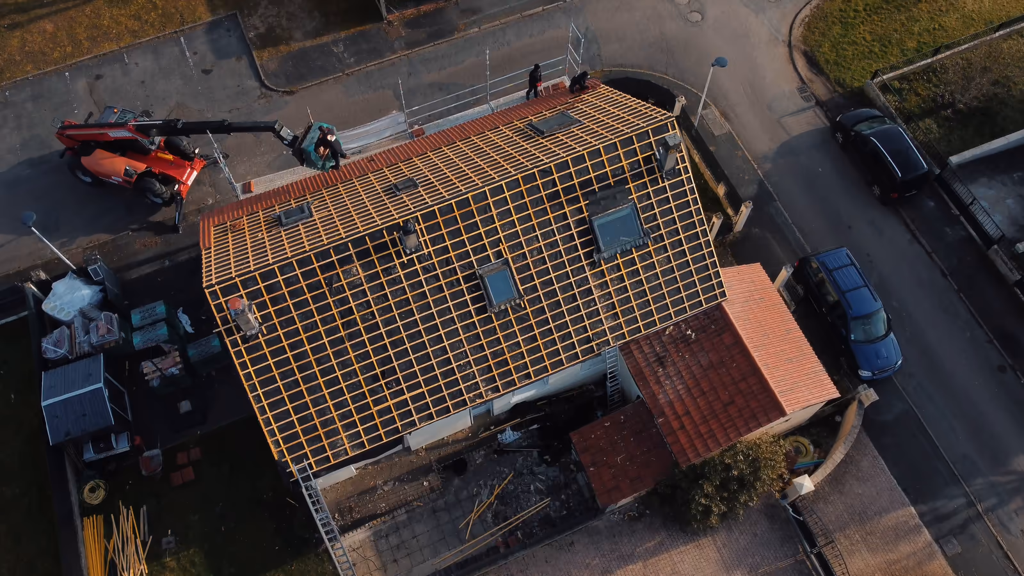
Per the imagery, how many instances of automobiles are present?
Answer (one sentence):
In total, 2 automobiles can be seen.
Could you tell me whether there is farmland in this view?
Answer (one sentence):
No, the scene doesn't show any farmland.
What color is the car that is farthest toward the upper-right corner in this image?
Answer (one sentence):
The car that is farthest toward the upper-right corner looks black in the image.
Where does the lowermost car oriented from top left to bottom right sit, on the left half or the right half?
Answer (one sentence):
The lowermost car oriented from top left to bottom right appears in the right half of the scene.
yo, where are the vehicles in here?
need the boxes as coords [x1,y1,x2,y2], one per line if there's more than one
[832,99,939,206]
[794,246,905,380]
[54,97,355,231]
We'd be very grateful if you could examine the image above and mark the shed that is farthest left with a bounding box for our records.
[40,352,132,452]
